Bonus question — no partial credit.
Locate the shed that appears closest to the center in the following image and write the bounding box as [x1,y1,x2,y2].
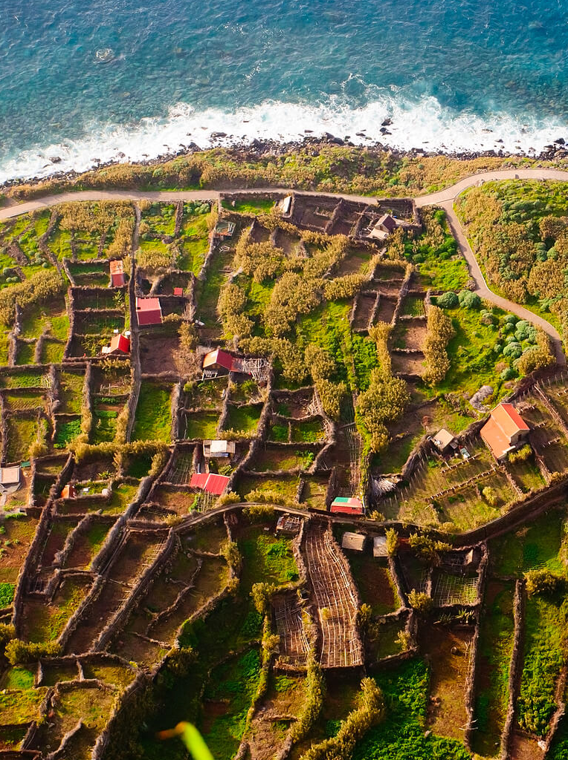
[203,350,243,377]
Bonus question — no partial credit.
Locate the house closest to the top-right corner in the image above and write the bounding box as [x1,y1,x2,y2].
[367,215,395,245]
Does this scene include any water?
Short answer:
Yes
